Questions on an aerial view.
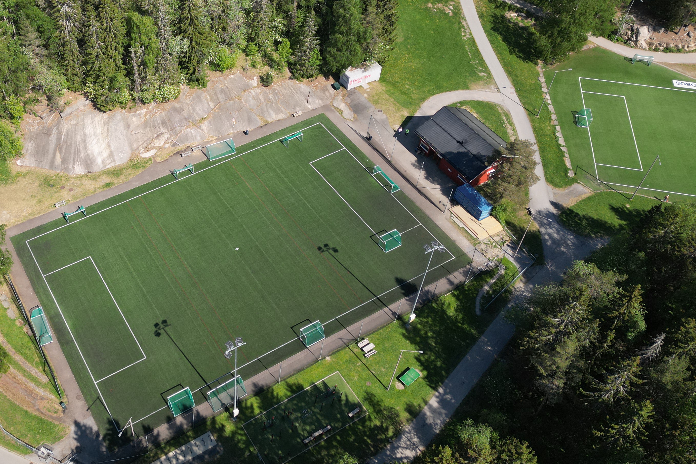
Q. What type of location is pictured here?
sports ground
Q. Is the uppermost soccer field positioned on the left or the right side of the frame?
right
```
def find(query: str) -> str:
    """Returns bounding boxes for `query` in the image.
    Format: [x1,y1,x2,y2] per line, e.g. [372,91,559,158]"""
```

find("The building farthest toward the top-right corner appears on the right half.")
[411,104,520,184]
